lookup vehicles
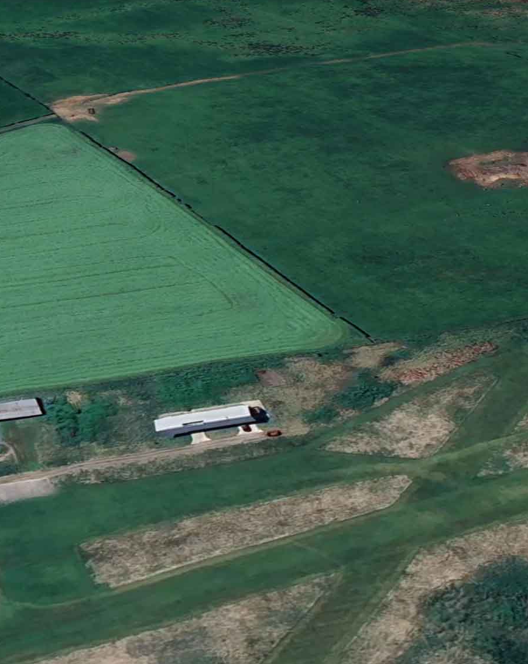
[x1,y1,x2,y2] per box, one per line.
[267,429,281,434]
[243,423,251,431]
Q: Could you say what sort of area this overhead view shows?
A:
farmland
